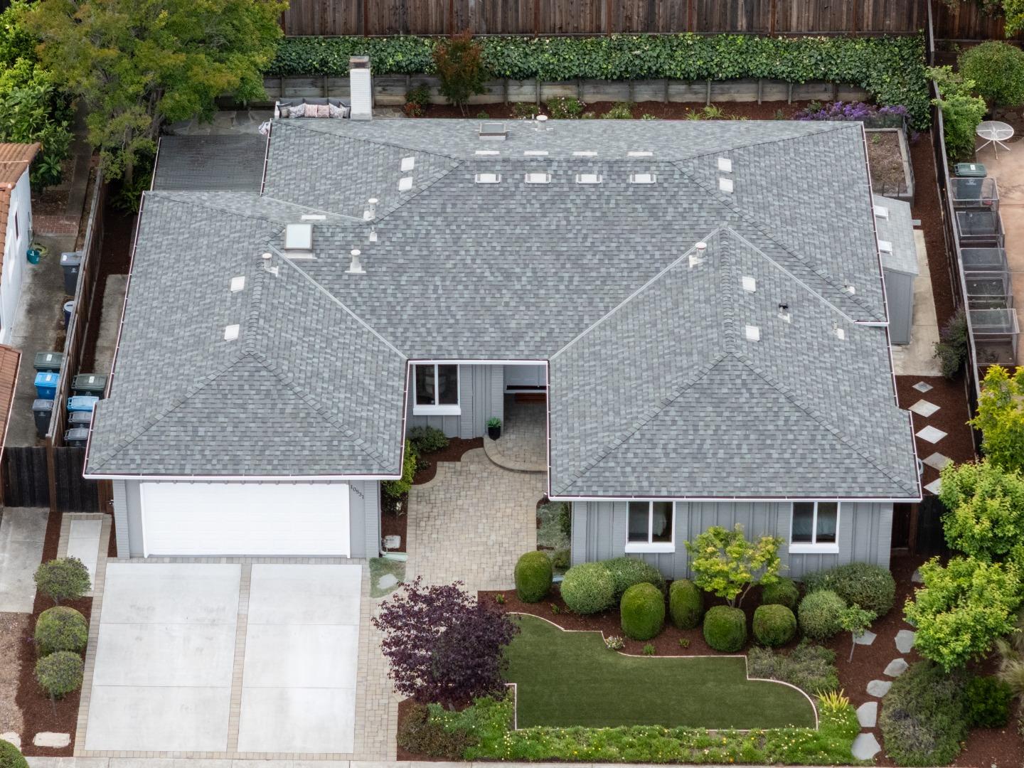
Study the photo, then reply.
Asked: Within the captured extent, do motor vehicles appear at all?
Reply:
No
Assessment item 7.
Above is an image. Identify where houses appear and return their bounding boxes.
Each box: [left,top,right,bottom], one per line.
[0,141,40,484]
[83,50,921,581]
